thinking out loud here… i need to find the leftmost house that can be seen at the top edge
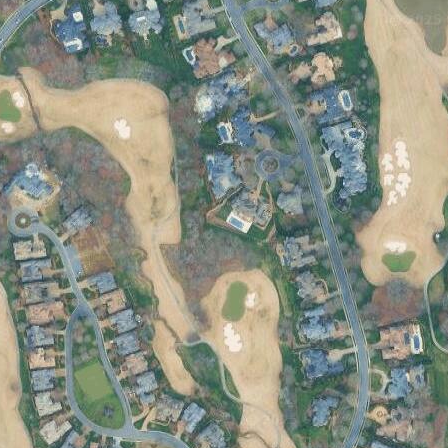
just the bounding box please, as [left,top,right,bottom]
[51,1,91,50]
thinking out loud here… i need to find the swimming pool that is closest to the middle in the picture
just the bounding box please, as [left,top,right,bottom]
[226,211,253,232]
